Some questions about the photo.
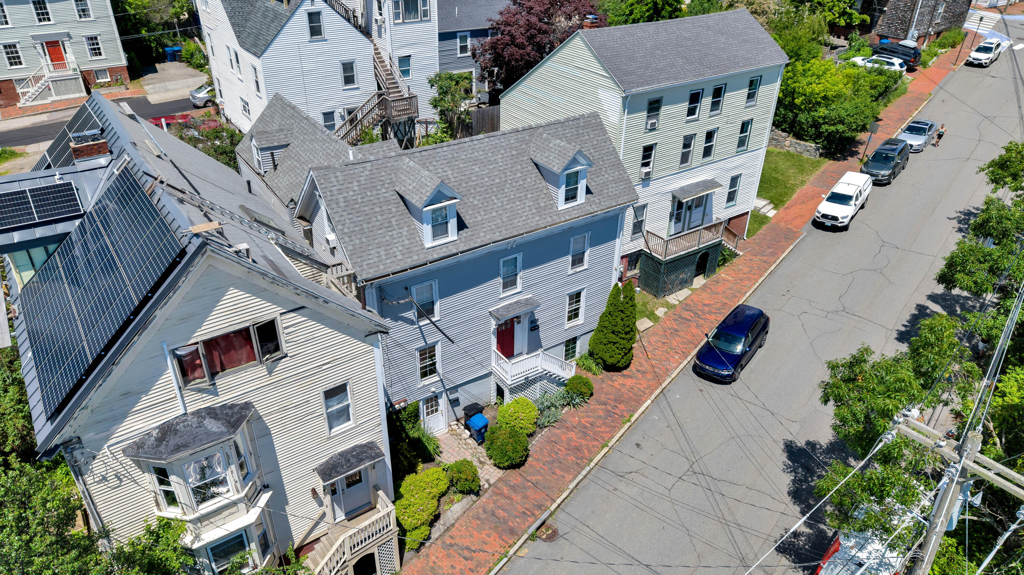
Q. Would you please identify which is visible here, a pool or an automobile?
automobile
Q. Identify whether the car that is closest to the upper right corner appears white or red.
white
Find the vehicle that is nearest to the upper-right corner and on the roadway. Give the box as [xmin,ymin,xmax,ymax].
[966,36,1003,67]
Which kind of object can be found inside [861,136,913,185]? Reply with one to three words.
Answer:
car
